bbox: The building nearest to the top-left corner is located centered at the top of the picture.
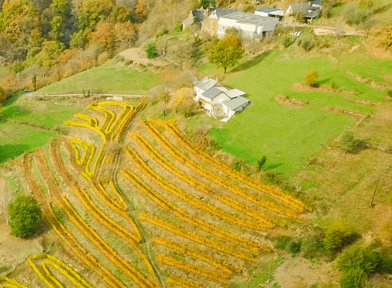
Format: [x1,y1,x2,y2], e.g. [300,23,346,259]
[178,6,209,32]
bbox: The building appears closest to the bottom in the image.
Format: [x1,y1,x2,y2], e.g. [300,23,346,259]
[196,77,251,123]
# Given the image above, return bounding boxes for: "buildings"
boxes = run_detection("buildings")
[279,0,319,27]
[196,77,251,123]
[178,6,209,32]
[216,12,279,40]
